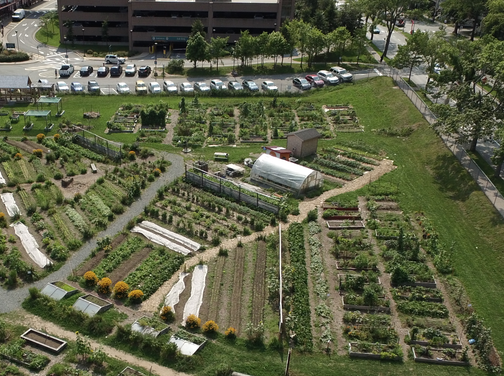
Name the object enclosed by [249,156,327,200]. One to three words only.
greenhouse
